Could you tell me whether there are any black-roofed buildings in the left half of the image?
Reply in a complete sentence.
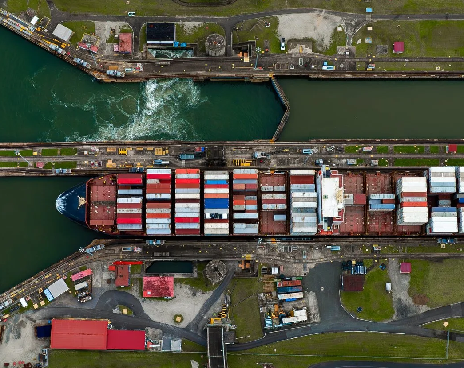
Yes, a black-roofed building appears in the left half of the image.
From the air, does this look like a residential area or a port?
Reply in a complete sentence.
What you see here is a port.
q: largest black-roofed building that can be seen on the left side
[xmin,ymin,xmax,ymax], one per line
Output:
[146,23,175,44]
